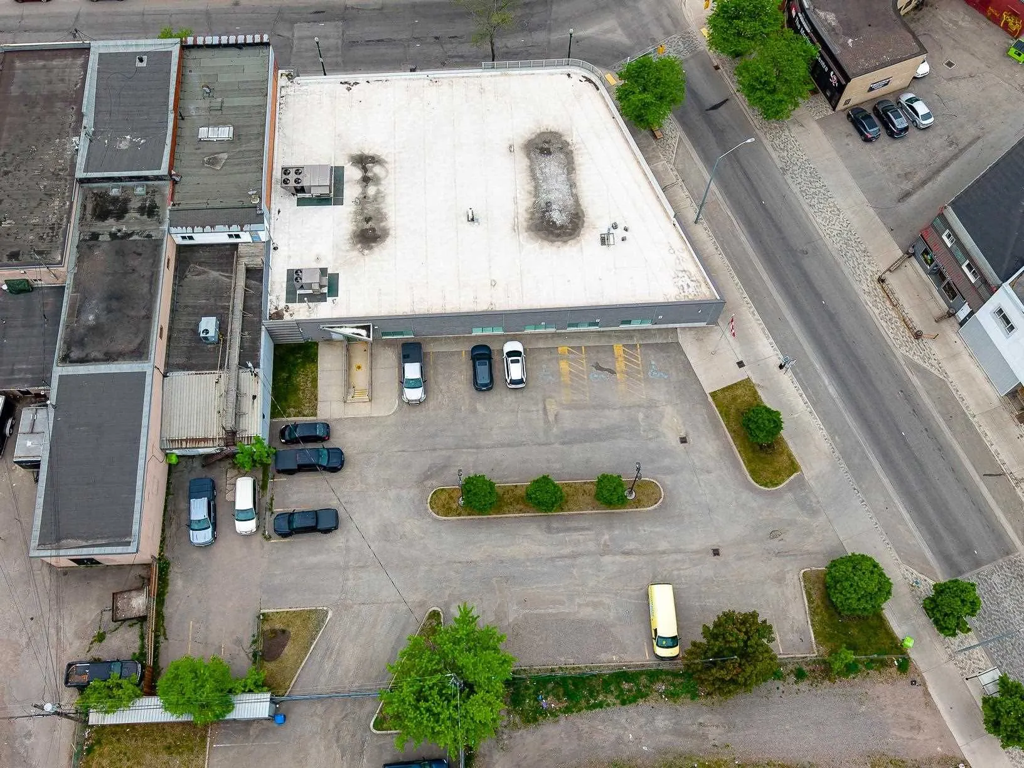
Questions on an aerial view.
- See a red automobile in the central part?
No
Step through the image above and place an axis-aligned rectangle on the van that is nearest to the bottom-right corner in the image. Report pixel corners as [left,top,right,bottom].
[648,583,681,660]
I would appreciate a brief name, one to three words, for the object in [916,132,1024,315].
building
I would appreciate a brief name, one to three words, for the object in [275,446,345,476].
truck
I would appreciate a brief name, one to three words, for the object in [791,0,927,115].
building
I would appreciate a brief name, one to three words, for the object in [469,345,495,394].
car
